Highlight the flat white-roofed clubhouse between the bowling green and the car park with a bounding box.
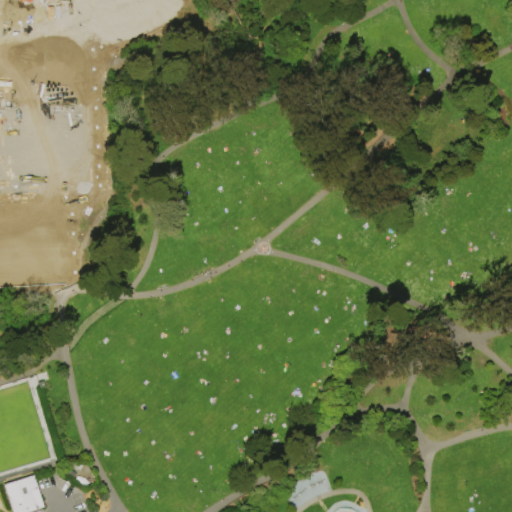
[5,475,46,512]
